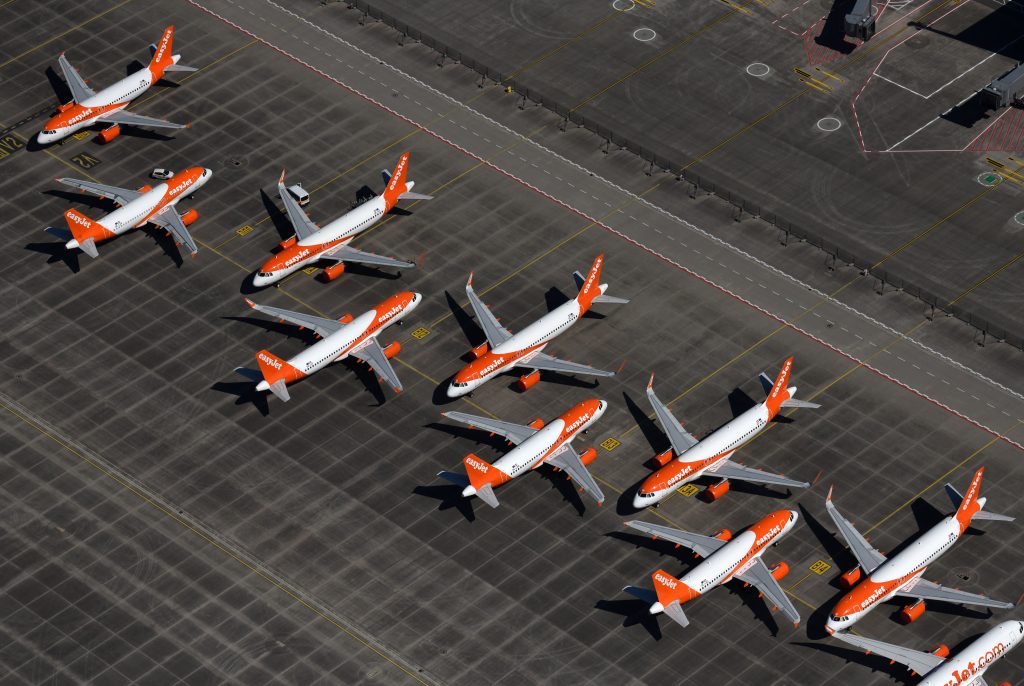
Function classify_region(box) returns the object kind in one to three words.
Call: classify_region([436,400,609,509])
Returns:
airplane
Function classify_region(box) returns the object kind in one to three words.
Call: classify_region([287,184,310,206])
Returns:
vehicle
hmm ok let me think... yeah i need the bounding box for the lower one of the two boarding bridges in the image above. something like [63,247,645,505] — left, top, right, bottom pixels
[980,63,1024,121]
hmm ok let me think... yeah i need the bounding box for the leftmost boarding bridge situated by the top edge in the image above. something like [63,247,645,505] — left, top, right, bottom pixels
[844,0,874,40]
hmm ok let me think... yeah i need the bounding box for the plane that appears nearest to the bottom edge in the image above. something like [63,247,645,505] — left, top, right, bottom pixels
[826,620,1023,686]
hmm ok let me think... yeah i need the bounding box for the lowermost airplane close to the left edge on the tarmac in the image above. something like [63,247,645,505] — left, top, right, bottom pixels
[44,168,211,258]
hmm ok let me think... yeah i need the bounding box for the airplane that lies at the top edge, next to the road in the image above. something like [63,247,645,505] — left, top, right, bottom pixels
[38,26,199,144]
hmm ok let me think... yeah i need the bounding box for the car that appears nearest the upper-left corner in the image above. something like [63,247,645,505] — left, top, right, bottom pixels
[150,167,174,180]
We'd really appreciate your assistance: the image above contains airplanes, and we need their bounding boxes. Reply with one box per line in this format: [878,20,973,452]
[445,253,631,396]
[232,292,421,402]
[632,355,822,507]
[826,620,1023,686]
[826,466,1024,631]
[436,400,609,509]
[251,152,435,286]
[44,168,211,258]
[38,26,199,144]
[622,512,801,629]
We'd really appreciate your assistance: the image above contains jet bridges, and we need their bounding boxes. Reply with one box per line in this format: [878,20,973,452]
[844,0,874,40]
[980,63,1024,121]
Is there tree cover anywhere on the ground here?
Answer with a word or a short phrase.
No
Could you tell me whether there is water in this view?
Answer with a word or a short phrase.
No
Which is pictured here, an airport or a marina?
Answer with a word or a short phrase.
airport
